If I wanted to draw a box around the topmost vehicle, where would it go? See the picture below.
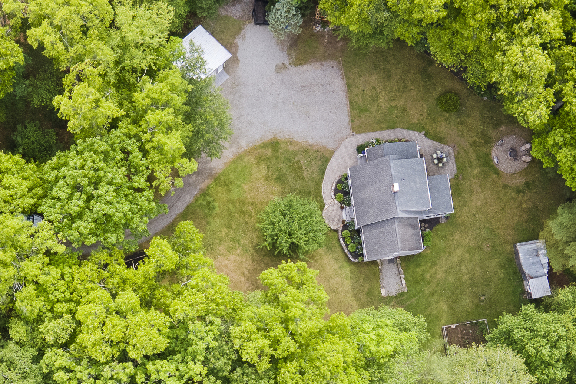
[255,0,270,28]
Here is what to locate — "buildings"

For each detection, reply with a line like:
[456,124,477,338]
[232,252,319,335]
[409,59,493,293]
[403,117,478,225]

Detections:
[347,141,454,262]
[514,239,555,298]
[173,26,235,93]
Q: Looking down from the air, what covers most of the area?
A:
trees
